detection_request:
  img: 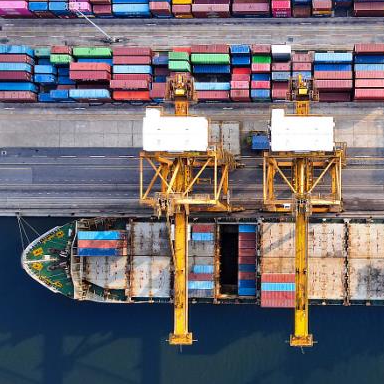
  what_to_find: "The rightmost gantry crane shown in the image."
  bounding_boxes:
[258,71,348,355]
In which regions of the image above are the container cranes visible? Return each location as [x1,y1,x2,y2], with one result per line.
[140,71,242,355]
[258,71,348,355]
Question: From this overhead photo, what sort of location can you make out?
port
